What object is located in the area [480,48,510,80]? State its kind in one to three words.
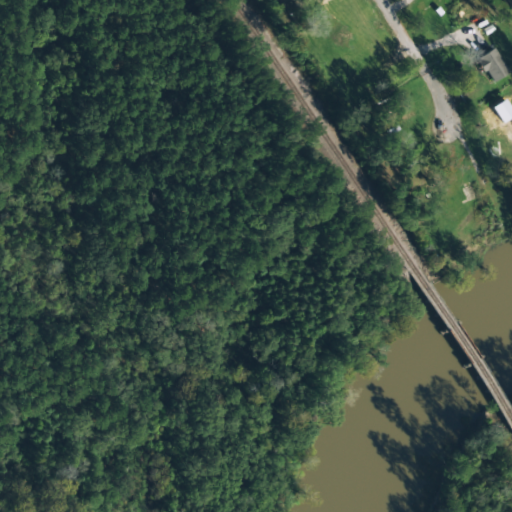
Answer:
house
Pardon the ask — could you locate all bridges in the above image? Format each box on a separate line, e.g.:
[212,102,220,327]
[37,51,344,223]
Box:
[402,255,512,426]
